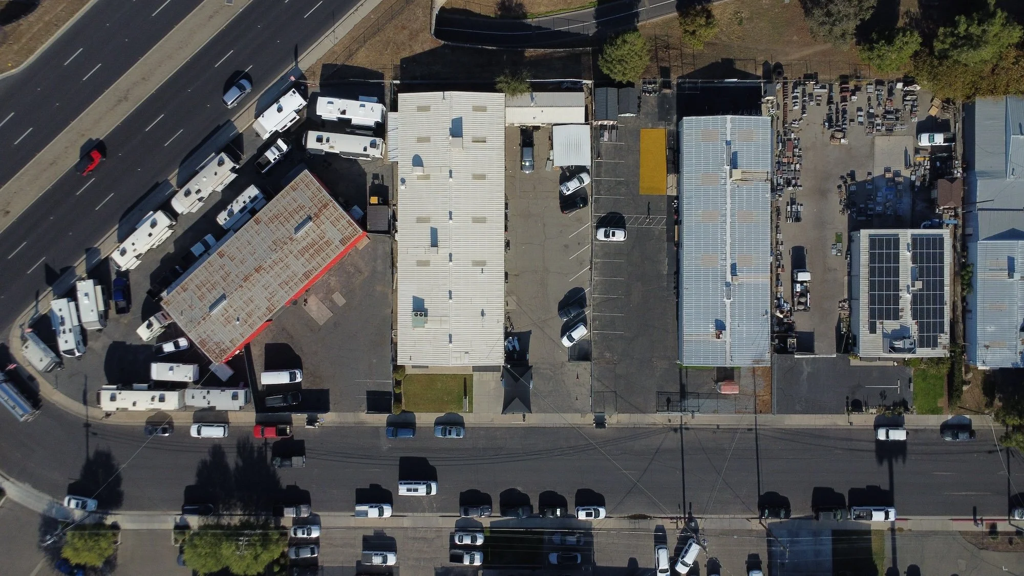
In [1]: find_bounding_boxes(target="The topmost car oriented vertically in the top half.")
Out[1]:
[519,130,536,174]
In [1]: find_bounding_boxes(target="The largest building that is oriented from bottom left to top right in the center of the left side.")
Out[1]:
[161,166,367,365]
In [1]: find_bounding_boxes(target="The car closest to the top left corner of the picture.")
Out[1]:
[76,146,108,176]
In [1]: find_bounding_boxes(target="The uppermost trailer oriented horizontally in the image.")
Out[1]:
[317,98,389,130]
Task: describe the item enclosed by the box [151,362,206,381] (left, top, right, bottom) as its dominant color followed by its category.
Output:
white trailer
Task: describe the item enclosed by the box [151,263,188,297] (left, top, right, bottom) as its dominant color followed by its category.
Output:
black truck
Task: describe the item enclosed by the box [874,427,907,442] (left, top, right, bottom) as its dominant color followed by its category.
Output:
white car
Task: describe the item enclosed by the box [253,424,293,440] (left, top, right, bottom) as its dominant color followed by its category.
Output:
red vehicle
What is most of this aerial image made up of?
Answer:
paved ground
